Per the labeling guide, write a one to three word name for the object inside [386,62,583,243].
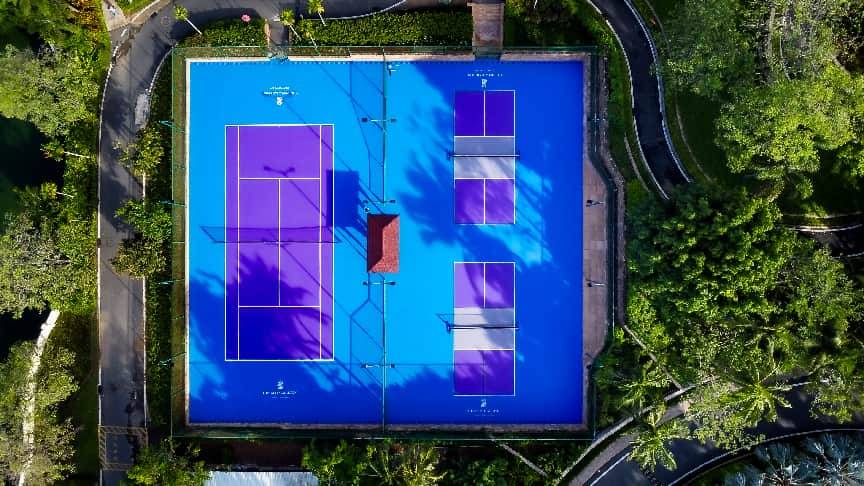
sports court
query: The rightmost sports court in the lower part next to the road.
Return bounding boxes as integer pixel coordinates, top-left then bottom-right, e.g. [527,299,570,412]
[386,243,583,424]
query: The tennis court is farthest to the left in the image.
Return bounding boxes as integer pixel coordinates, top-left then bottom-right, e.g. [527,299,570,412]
[189,62,386,424]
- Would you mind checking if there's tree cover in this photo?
Yes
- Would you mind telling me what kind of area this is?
sports ground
